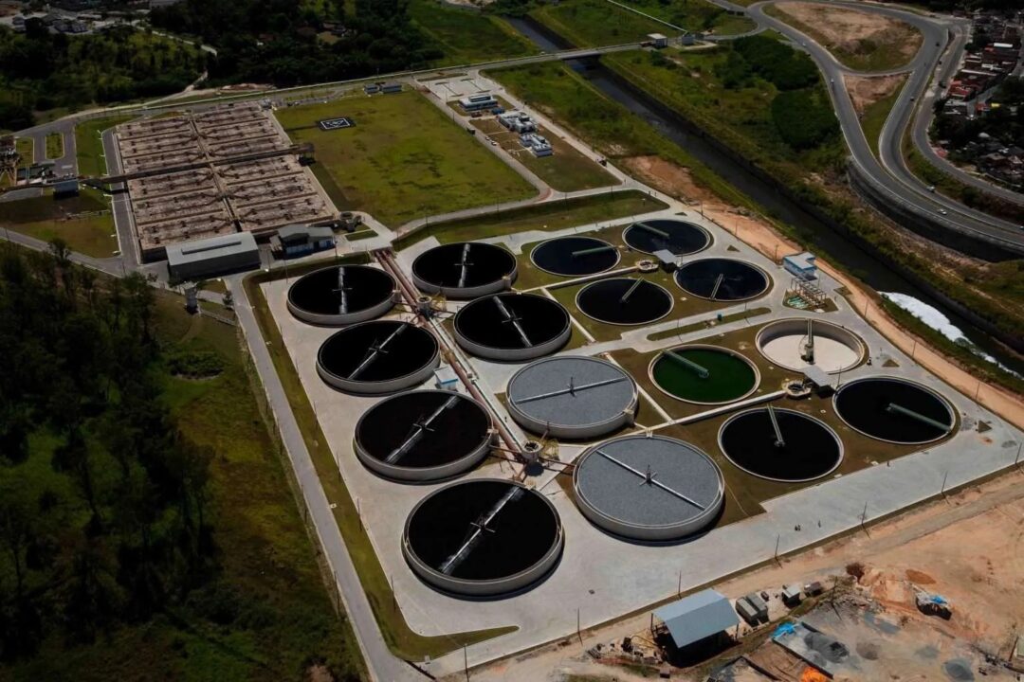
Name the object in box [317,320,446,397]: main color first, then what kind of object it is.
black storage tank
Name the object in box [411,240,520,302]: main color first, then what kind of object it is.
black storage tank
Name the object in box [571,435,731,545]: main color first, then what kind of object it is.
gray storage tank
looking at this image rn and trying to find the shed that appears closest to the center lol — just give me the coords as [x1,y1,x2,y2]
[433,366,459,391]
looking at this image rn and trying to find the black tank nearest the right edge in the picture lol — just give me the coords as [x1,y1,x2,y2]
[832,377,958,447]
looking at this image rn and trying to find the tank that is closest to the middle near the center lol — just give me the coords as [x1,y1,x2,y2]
[453,291,574,363]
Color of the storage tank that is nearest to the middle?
black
